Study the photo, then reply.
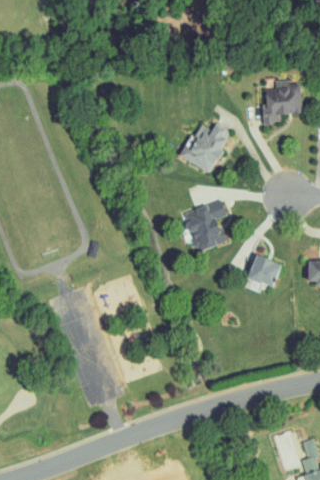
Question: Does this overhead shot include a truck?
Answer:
No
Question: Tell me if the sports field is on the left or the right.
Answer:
left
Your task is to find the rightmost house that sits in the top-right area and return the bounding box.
[264,79,304,126]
